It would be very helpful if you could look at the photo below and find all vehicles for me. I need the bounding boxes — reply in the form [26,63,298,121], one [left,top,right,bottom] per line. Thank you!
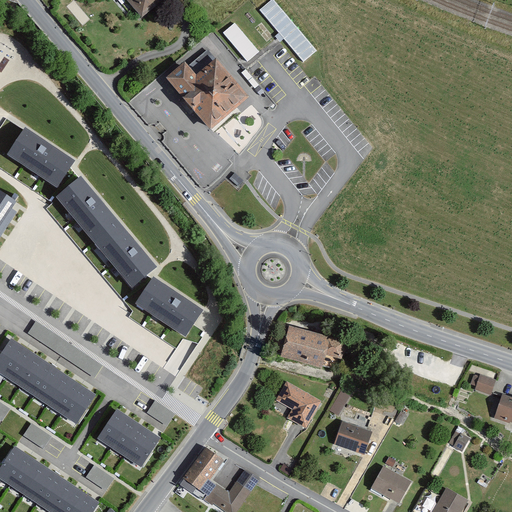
[284,128,294,139]
[106,336,116,348]
[320,95,331,105]
[304,126,314,136]
[74,464,86,474]
[266,82,276,92]
[22,280,32,290]
[288,62,298,72]
[274,138,285,150]
[506,384,512,394]
[368,440,377,454]
[332,487,338,498]
[254,67,264,76]
[154,158,164,167]
[297,184,308,188]
[298,76,309,86]
[284,166,296,172]
[214,432,224,442]
[136,400,146,409]
[418,352,424,364]
[119,346,127,360]
[276,48,286,58]
[279,160,290,165]
[284,58,295,66]
[134,356,148,372]
[8,271,22,286]
[258,72,269,82]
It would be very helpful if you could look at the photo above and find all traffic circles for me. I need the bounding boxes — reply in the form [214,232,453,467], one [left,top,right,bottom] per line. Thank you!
[237,233,310,306]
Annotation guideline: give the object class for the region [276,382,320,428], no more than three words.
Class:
house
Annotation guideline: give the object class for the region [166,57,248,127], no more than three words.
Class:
building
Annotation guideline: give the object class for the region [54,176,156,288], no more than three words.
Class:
building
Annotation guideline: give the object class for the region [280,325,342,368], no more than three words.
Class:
house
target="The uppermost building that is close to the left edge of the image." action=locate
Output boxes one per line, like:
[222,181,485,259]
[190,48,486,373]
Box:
[6,127,74,187]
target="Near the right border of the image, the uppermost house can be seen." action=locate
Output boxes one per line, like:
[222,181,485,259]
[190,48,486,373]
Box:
[471,374,496,395]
